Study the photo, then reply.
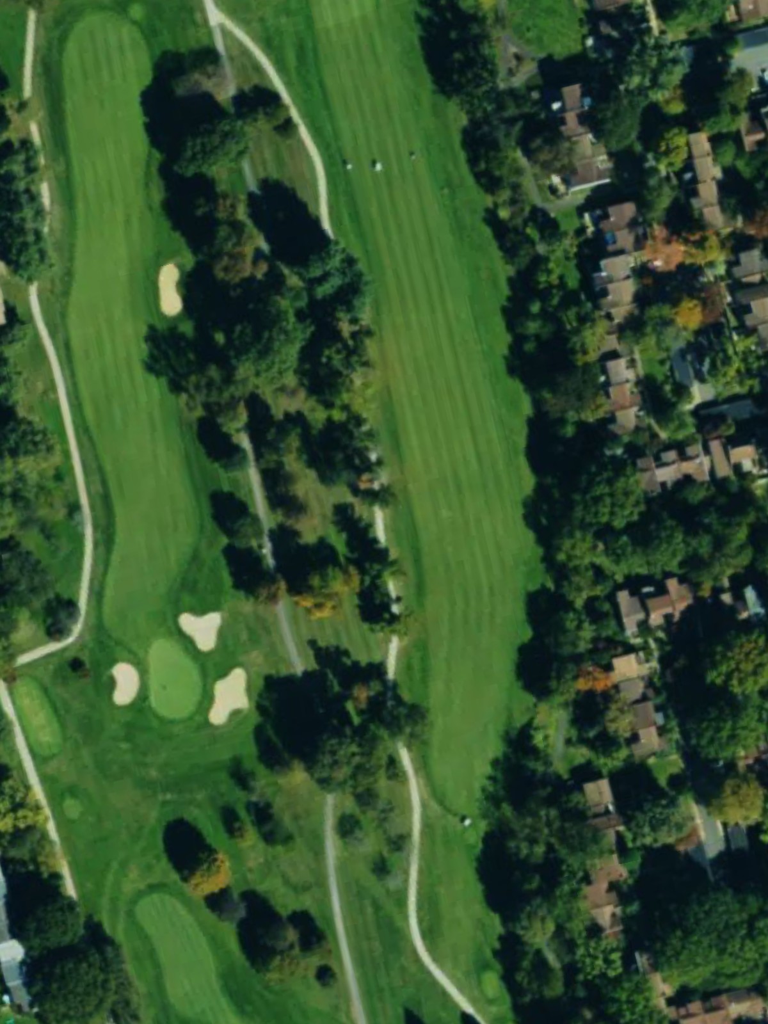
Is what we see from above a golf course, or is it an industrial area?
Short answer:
golf course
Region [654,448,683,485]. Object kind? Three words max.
house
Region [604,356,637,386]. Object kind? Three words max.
house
